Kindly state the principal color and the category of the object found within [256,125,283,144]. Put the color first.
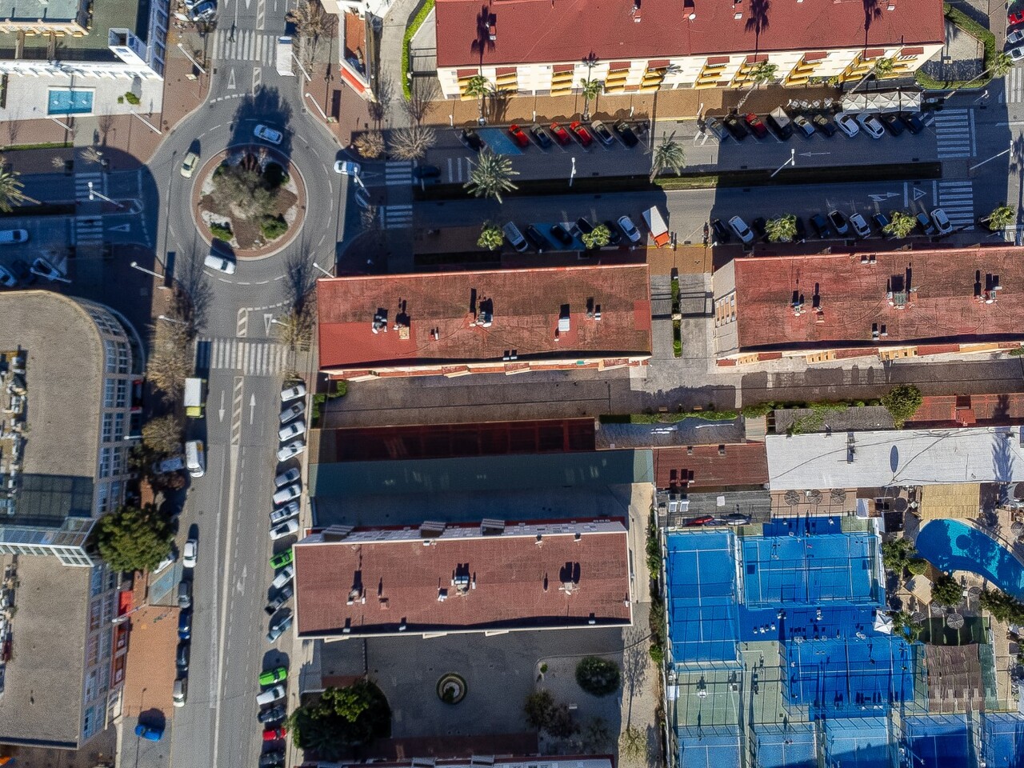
blue car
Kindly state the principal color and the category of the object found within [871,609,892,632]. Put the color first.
white umbrella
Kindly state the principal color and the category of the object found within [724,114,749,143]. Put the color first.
black car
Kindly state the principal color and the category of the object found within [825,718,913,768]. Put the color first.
blue sports court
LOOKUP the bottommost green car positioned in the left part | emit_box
[259,667,287,685]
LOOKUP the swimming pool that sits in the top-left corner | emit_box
[48,89,91,114]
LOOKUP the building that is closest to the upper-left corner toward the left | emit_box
[0,0,166,85]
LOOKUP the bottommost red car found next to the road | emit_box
[262,724,289,740]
